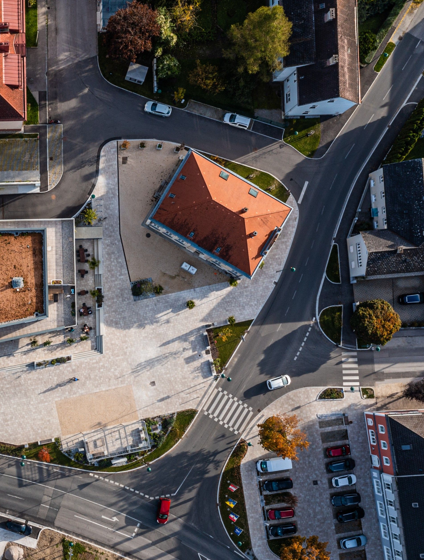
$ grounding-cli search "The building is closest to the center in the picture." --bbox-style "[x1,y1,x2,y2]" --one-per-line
[142,149,294,281]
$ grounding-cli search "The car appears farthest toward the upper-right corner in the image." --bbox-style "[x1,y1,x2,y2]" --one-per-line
[222,111,252,131]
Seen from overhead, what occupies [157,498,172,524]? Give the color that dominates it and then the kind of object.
red car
